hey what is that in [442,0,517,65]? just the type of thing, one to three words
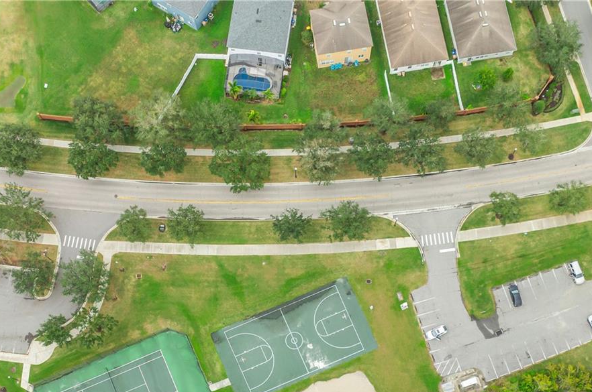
house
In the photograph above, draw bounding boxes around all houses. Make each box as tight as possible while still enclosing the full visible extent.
[442,0,517,65]
[142,0,220,32]
[226,0,293,67]
[375,0,448,74]
[310,0,373,67]
[91,0,125,17]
